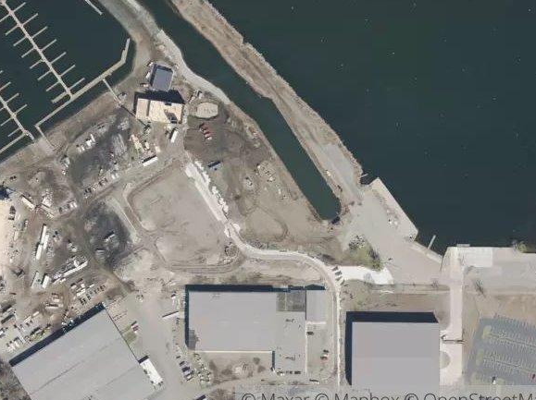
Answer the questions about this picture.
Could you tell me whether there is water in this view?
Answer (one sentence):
Yes, some water is visible.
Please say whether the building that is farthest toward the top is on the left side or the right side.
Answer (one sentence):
It is on the left.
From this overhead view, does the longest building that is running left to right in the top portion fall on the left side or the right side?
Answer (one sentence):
The longest building that is running left to right in the top portion sits on the left side.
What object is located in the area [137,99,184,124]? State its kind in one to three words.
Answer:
building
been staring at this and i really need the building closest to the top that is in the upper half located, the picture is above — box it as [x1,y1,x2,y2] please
[153,68,174,91]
